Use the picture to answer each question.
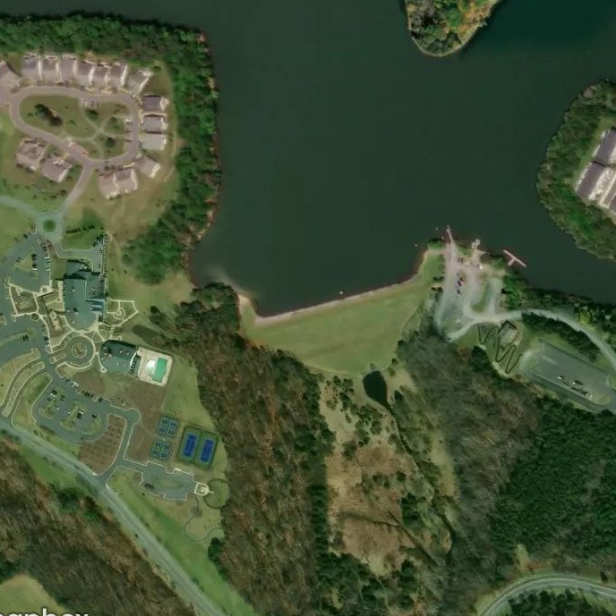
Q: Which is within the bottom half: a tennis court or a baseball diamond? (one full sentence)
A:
The one visible within the bottom half is a tennis court.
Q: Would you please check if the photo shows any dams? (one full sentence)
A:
Yes, the image includes a dam.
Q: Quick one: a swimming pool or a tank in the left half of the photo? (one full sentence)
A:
It is a swimming pool that can be seen in the left half of the photo.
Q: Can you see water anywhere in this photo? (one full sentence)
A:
Yes, there is water in the image.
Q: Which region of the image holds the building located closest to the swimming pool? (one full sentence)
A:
The building located closest to the swimming pool is located in the left region of the scene.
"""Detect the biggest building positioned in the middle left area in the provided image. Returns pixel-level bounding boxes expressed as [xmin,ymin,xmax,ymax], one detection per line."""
[64,259,106,331]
